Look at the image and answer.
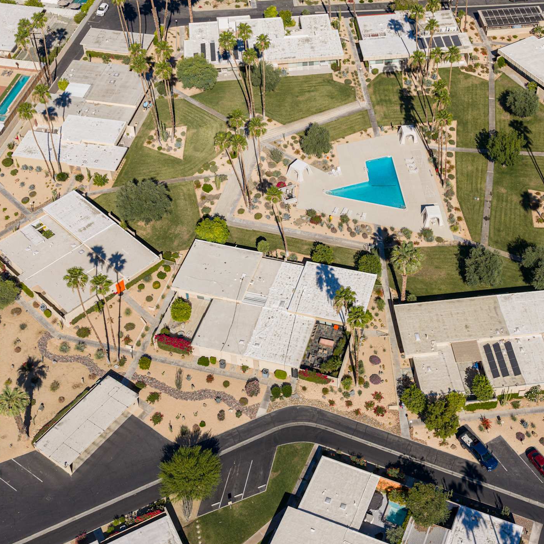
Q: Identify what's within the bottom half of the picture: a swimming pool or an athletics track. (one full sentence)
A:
The one visible within the bottom half of the picture is a swimming pool.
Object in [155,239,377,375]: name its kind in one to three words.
house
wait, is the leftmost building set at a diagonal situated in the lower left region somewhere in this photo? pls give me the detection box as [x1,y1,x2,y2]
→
[36,370,139,472]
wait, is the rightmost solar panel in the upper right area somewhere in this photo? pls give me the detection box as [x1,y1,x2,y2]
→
[483,8,542,25]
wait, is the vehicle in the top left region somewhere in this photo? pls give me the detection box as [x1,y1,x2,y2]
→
[95,0,111,15]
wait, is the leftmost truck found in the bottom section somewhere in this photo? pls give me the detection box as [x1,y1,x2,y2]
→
[457,432,493,470]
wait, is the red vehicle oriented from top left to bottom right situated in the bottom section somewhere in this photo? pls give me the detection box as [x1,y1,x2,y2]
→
[525,449,544,478]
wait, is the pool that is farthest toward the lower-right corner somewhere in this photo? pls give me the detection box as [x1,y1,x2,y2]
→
[382,498,411,527]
